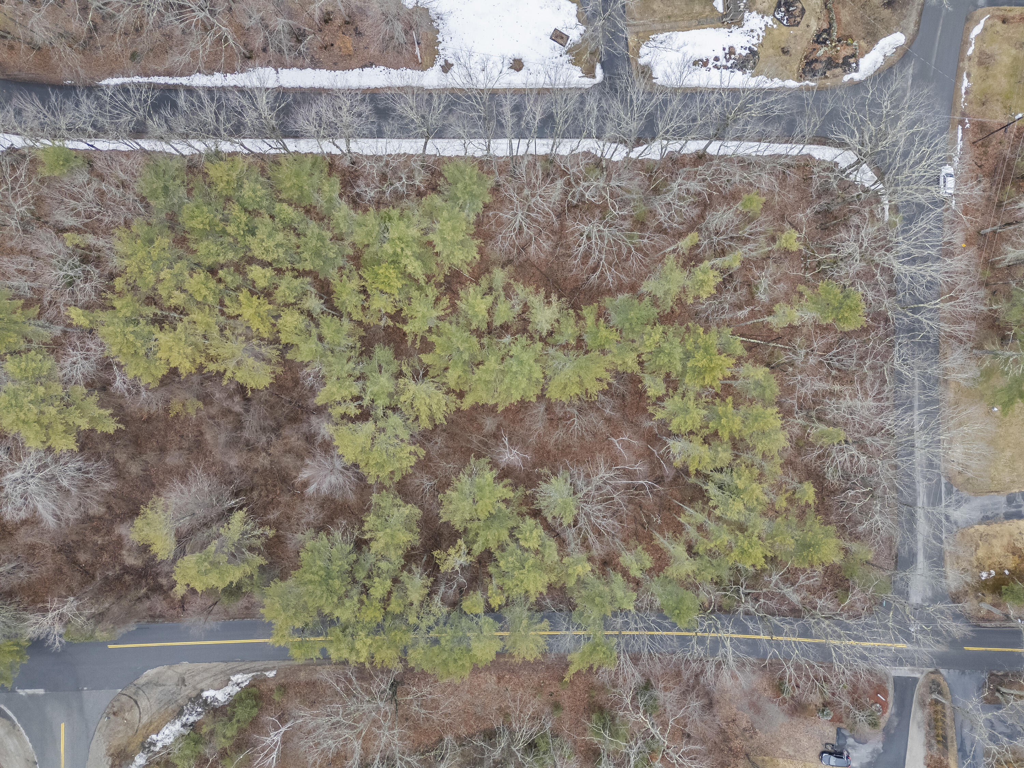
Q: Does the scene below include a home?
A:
No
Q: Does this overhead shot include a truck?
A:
No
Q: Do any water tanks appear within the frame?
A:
No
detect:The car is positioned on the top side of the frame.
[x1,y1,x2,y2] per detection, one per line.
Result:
[940,164,958,195]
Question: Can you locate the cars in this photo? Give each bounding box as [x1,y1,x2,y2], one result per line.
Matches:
[940,164,958,195]
[819,752,851,768]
